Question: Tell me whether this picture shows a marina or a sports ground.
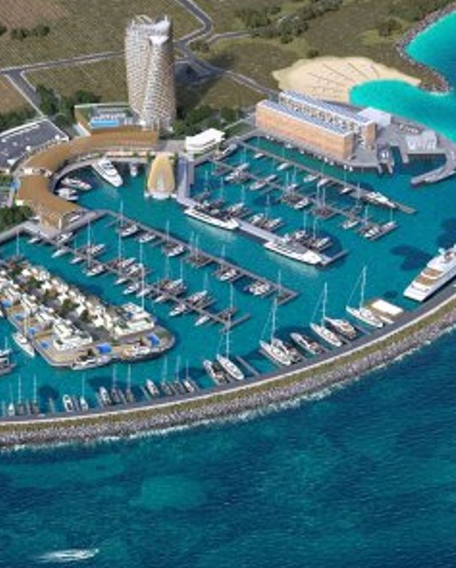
marina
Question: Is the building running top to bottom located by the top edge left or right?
left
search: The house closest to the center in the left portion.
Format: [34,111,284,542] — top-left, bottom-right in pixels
[113,304,156,333]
